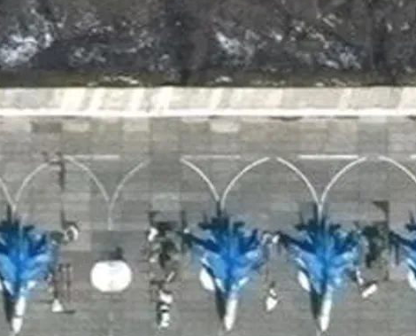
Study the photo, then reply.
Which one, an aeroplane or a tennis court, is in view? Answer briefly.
aeroplane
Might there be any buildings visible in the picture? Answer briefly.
No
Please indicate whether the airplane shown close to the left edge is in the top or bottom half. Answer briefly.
bottom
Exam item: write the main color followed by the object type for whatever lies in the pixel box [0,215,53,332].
blue airplane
